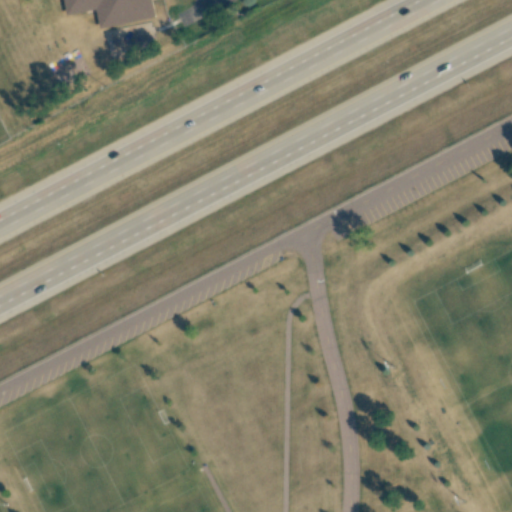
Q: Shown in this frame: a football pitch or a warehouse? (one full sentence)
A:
Of the two, only a football pitch appears.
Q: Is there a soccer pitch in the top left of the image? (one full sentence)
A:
No, no soccer pitch appears in the top left of the image.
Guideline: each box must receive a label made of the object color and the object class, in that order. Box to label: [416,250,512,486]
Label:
green soccer field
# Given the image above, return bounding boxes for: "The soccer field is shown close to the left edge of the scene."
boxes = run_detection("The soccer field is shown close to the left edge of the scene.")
[5,364,188,512]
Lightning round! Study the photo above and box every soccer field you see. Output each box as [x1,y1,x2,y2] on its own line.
[416,250,512,486]
[5,364,188,512]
